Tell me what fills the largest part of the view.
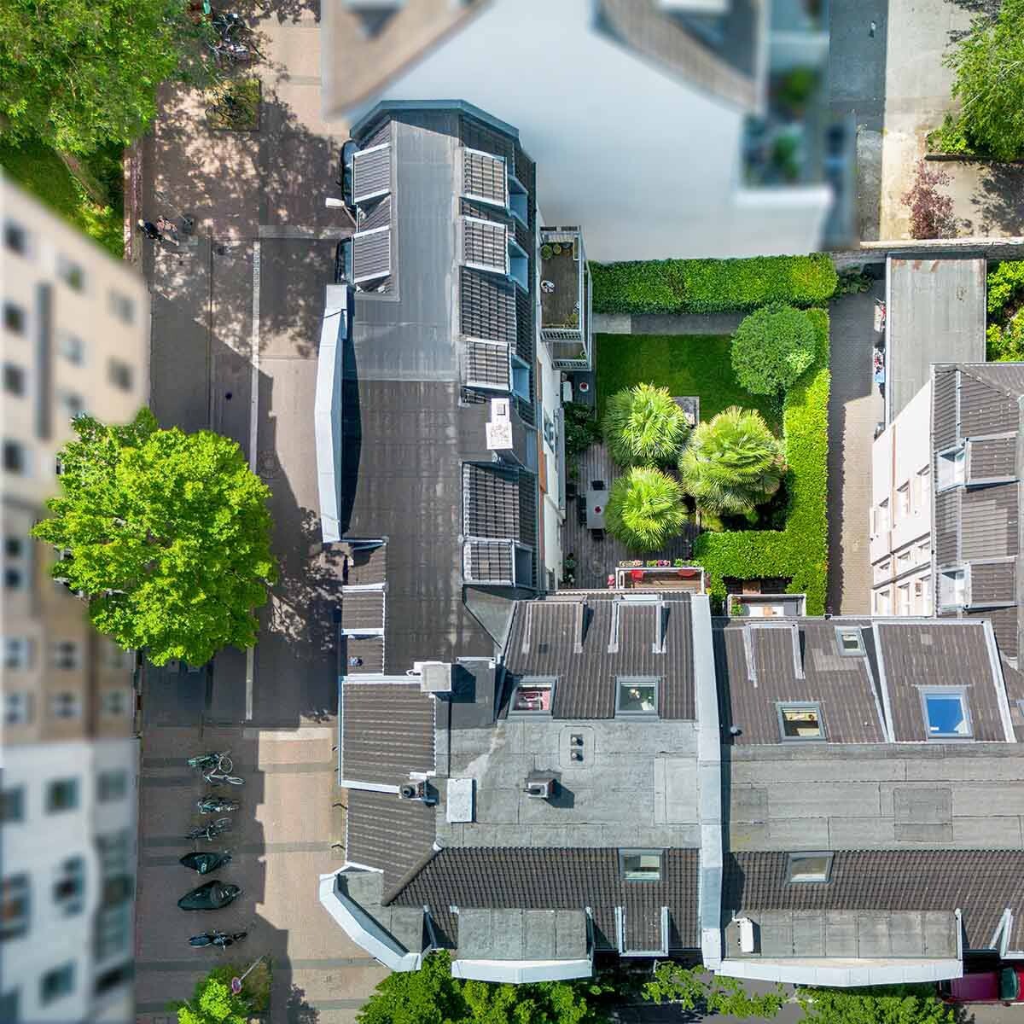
buildings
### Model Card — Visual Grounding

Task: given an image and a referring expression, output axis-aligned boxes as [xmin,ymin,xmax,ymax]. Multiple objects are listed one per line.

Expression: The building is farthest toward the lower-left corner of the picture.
[0,740,141,1024]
